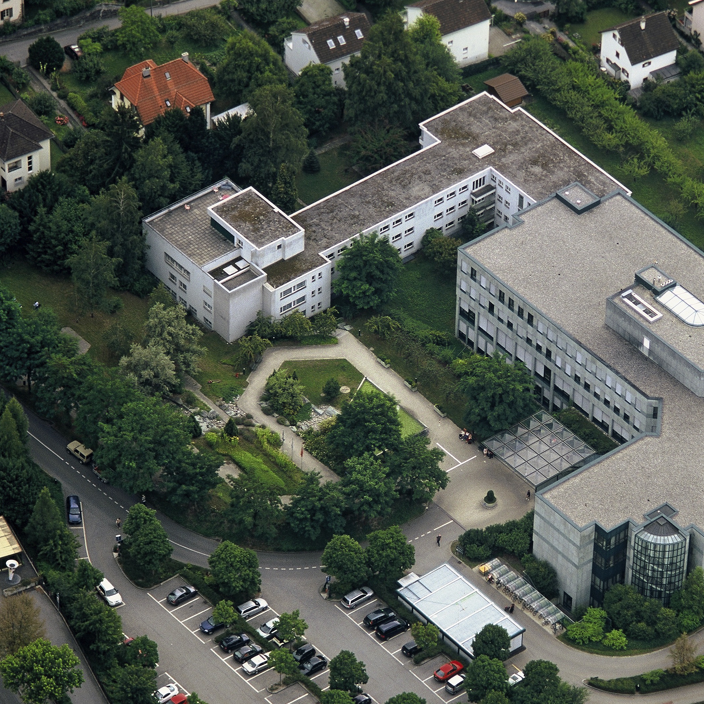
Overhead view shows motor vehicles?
Yes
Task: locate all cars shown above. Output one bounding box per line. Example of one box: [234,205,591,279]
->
[240,650,272,674]
[152,682,183,704]
[297,655,330,677]
[398,639,428,658]
[362,608,398,629]
[231,641,267,663]
[164,584,199,605]
[254,611,280,638]
[97,576,121,605]
[290,640,318,664]
[66,496,82,523]
[272,633,302,649]
[432,661,465,682]
[376,619,410,641]
[442,674,472,695]
[66,439,96,461]
[235,597,270,619]
[63,44,85,60]
[218,630,253,654]
[339,587,375,607]
[199,616,231,633]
